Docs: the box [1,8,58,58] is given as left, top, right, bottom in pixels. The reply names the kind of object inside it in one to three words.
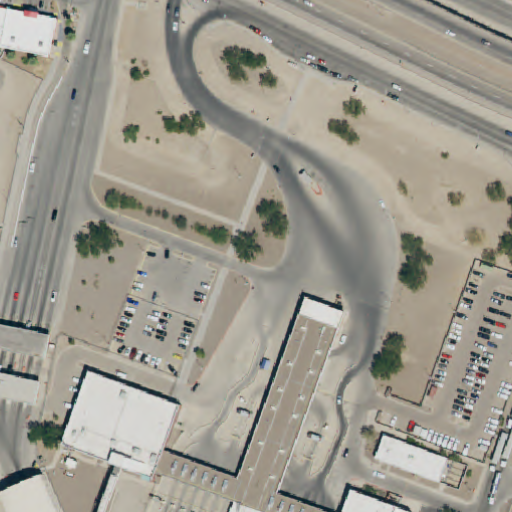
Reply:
building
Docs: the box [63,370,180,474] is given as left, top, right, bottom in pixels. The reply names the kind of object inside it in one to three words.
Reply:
building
